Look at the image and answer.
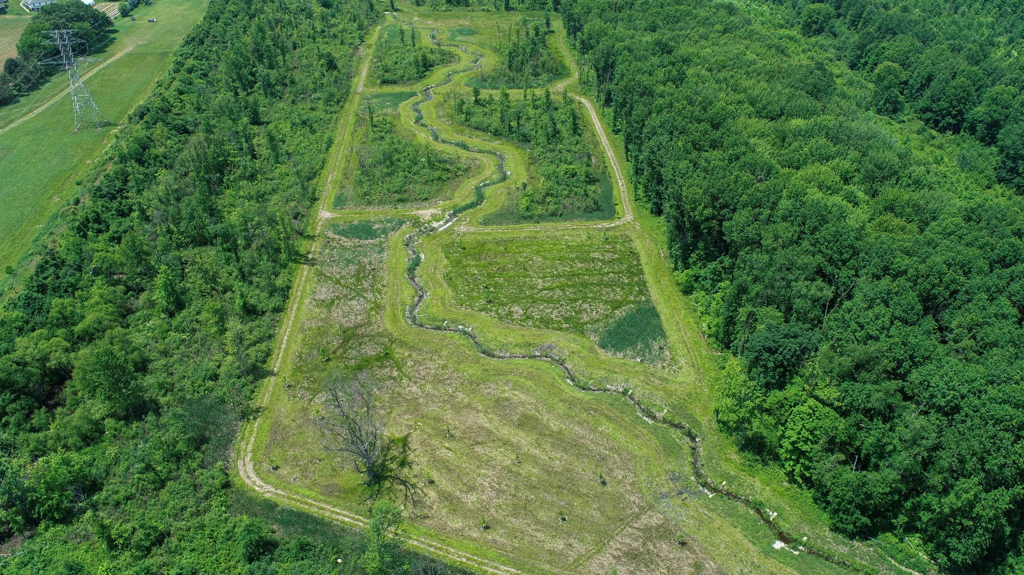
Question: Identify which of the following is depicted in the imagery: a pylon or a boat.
pylon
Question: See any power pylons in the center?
No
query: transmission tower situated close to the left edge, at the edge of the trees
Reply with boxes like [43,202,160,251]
[40,27,107,131]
